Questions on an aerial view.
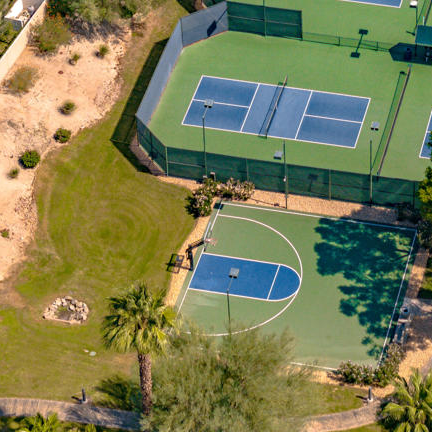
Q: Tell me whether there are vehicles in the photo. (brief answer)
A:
No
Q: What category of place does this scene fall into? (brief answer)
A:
sports ground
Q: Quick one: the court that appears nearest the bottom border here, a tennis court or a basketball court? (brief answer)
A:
basketball court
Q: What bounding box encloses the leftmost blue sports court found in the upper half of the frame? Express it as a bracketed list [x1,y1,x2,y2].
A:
[183,76,371,148]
